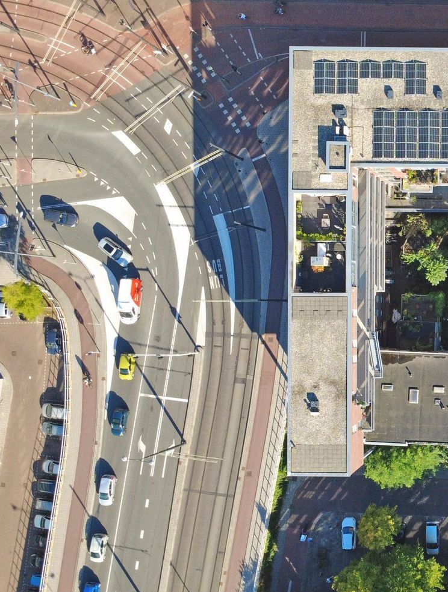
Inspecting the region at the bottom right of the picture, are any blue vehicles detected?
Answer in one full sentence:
Yes, I can see a blue vehicle at the bottom right of the picture.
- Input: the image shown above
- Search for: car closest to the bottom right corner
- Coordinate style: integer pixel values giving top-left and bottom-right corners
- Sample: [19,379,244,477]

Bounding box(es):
[424,519,441,555]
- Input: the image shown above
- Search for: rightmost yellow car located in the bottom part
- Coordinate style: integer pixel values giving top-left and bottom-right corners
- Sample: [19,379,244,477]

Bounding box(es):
[120,352,137,381]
